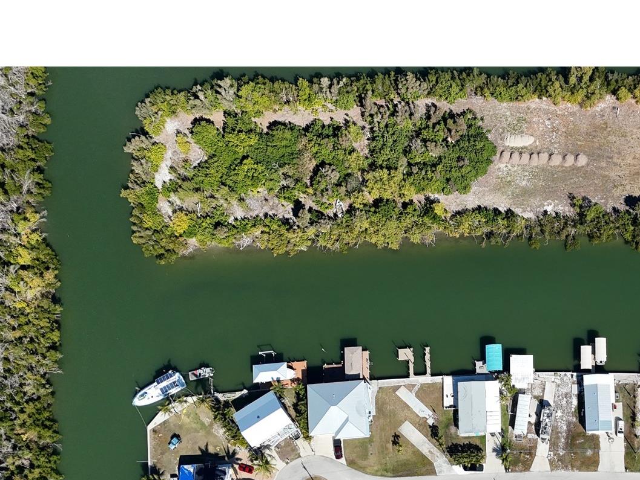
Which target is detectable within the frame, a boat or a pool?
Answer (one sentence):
I can see a boat in this picture.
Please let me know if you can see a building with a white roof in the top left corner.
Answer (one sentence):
No, no building with a white roof appears in the top left corner.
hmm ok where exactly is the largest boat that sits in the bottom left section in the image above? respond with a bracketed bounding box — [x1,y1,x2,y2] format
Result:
[128,371,185,404]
